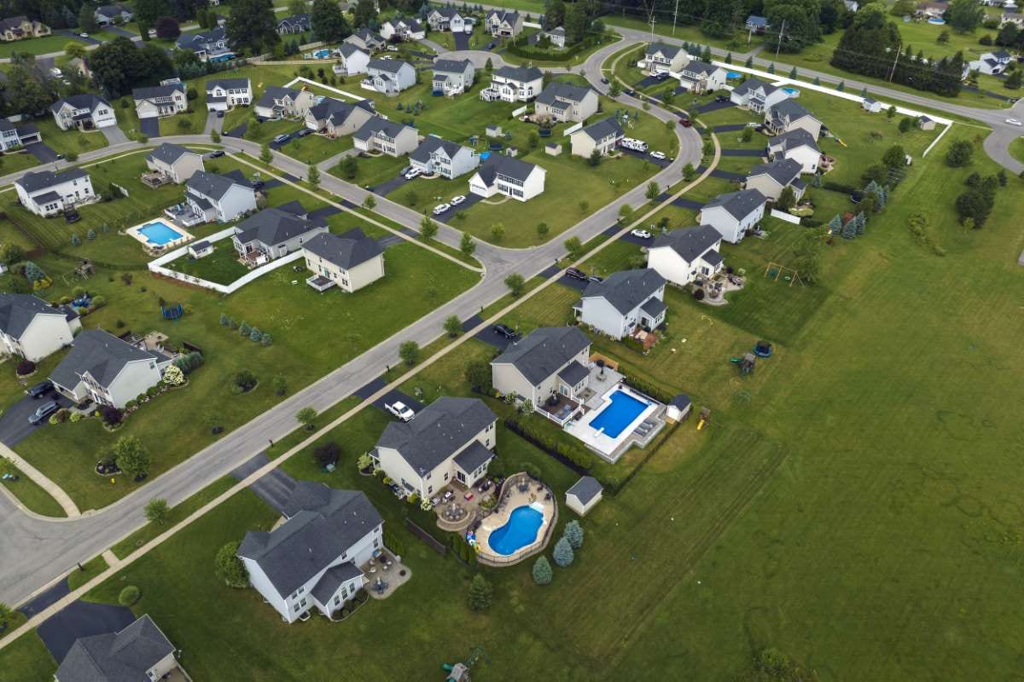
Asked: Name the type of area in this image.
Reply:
residential area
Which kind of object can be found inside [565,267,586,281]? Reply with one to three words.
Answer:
car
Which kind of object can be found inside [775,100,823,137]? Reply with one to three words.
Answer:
house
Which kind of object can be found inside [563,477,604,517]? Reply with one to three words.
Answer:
shed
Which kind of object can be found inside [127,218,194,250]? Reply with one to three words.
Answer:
swimming pool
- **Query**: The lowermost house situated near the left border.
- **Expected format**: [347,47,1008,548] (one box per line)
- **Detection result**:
[44,614,183,682]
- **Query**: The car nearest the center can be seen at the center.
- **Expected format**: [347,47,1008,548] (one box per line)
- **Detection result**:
[494,322,518,339]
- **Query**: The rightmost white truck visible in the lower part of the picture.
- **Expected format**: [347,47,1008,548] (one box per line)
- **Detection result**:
[384,399,416,420]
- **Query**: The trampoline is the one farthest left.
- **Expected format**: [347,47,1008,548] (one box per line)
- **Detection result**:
[159,299,184,320]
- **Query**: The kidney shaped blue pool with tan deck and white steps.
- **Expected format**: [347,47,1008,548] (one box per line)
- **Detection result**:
[475,473,557,562]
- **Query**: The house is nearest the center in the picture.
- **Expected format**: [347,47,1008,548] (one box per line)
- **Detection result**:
[490,320,593,407]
